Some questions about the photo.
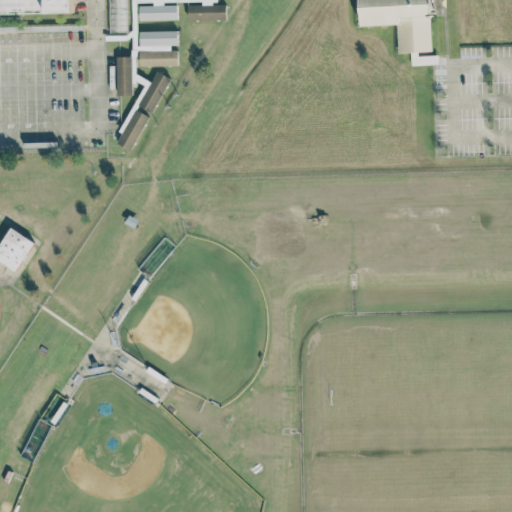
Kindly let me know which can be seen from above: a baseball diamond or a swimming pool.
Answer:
baseball diamond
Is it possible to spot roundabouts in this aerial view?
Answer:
No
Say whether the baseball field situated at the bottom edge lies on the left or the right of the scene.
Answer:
left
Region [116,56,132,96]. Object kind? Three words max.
building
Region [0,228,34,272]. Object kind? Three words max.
building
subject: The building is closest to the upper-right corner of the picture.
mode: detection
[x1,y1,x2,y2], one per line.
[358,0,440,66]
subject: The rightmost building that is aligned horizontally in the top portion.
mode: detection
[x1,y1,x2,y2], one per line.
[188,6,228,22]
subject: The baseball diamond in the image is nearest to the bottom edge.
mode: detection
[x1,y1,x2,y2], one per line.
[12,374,263,512]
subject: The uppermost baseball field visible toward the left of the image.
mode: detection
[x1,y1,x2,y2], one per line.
[118,235,268,407]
